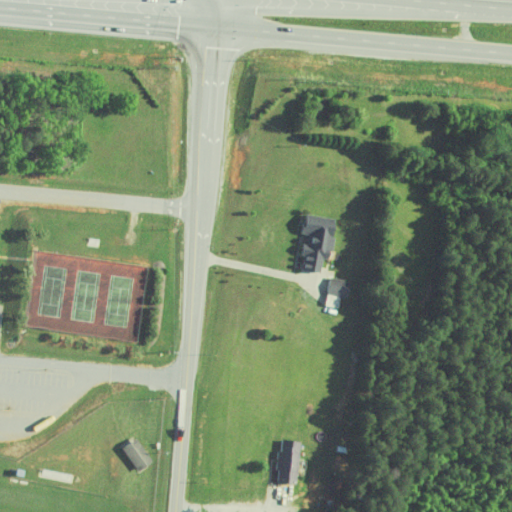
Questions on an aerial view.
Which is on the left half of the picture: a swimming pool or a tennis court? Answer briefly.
tennis court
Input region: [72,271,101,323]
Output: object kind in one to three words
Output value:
tennis court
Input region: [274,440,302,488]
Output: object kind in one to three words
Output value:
house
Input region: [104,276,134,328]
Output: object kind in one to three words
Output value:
tennis court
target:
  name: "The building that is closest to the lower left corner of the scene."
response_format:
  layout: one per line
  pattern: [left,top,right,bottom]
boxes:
[123,439,154,473]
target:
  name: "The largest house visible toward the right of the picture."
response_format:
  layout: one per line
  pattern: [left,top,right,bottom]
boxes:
[300,214,338,272]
